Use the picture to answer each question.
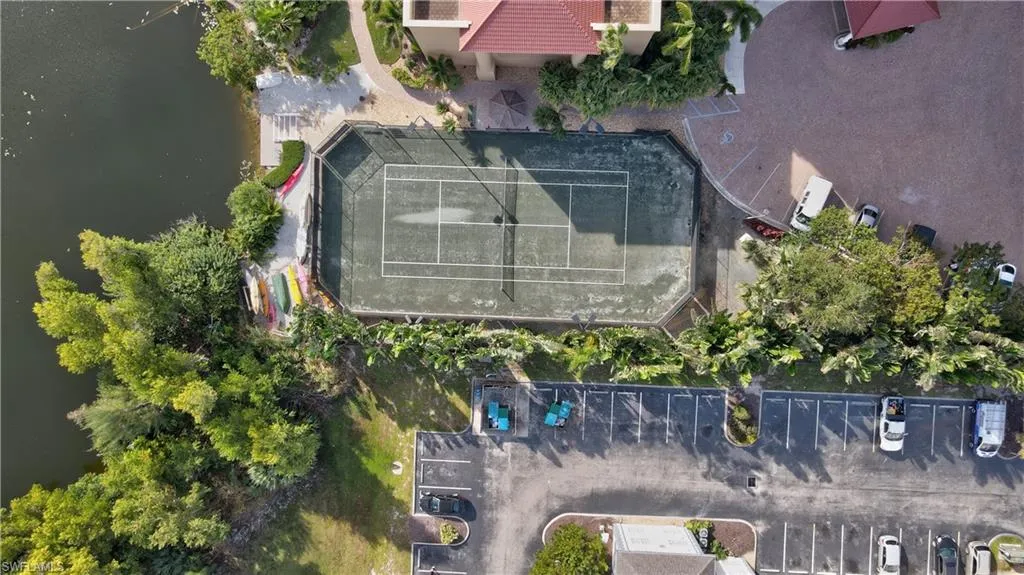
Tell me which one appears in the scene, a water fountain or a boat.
boat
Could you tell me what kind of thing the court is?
tennis court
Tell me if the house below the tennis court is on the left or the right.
right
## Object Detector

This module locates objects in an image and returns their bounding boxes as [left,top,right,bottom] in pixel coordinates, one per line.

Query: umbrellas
[488,84,528,125]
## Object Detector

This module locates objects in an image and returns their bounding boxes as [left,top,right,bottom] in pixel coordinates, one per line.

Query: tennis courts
[318,125,696,326]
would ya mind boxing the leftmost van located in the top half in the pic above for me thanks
[787,174,832,233]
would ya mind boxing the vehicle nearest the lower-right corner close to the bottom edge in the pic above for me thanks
[966,538,992,575]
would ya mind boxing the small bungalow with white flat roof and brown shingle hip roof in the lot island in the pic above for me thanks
[612,517,752,575]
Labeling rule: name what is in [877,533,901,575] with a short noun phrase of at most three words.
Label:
car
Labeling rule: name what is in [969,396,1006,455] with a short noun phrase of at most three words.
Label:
van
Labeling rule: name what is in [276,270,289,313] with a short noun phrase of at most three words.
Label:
boat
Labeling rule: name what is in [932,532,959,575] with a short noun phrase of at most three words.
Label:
car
